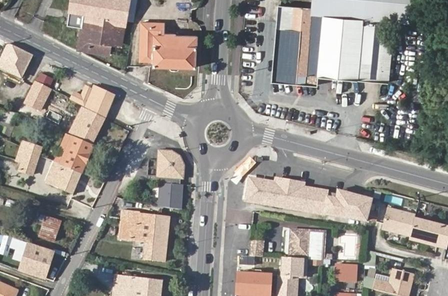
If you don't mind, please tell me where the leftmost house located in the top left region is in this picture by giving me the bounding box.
[0,44,32,82]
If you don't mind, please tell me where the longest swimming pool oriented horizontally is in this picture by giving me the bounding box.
[382,194,404,207]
